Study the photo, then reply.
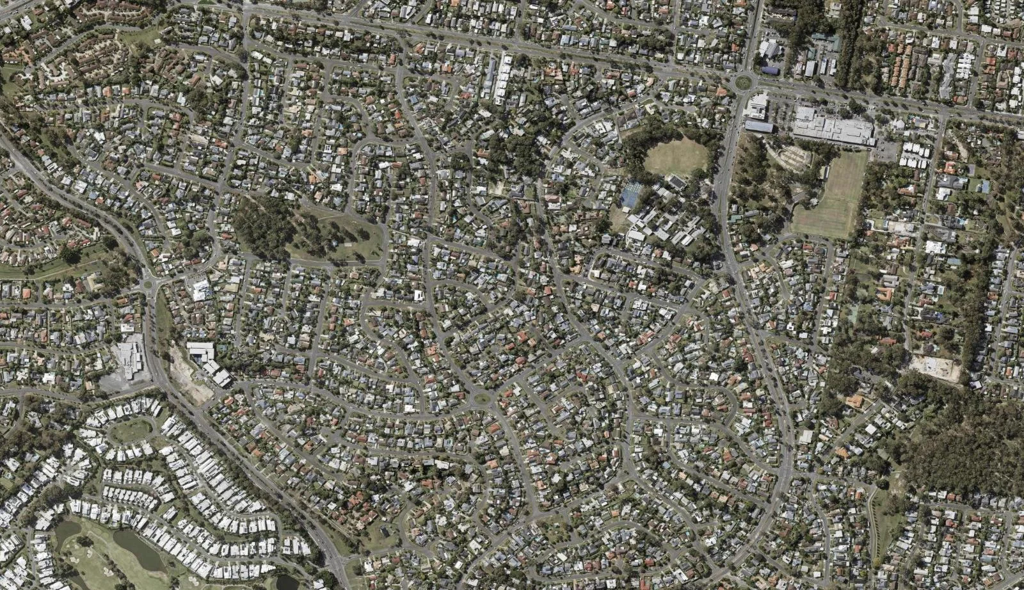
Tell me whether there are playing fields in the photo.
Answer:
Yes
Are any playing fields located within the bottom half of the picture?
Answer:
No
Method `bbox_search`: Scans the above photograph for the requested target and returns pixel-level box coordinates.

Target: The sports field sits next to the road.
[792,151,867,237]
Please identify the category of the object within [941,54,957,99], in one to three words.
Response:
building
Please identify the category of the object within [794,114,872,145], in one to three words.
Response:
building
